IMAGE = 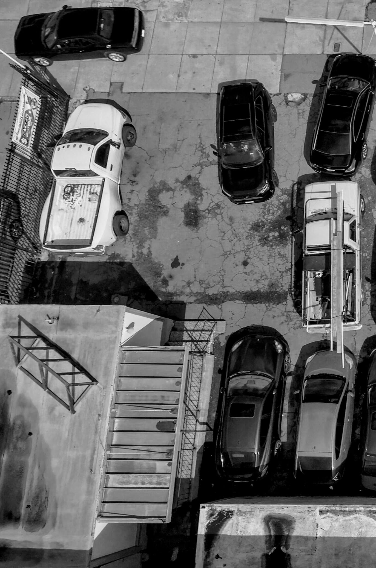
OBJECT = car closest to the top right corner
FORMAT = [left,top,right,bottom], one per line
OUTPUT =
[306,50,376,176]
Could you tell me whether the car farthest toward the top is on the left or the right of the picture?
left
